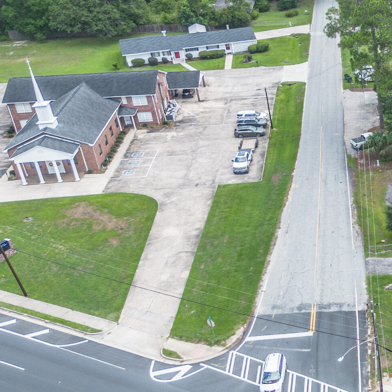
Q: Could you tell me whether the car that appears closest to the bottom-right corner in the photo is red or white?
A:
white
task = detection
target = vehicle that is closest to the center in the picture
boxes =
[232,149,251,170]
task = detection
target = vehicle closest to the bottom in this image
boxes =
[251,356,285,392]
